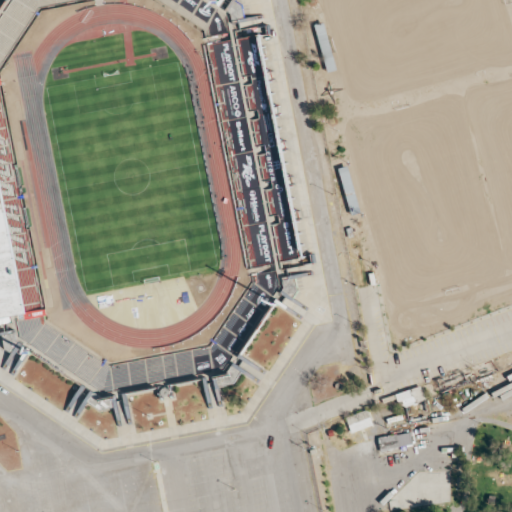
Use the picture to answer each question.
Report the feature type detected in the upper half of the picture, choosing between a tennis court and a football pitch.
football pitch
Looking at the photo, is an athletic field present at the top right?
Yes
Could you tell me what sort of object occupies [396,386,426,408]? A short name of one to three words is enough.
building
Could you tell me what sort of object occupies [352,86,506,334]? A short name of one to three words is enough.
sports field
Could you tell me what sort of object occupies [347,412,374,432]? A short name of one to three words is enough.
house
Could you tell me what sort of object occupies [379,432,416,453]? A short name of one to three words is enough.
building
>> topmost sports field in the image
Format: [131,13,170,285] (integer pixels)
[330,0,512,112]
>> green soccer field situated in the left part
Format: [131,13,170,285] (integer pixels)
[45,26,222,294]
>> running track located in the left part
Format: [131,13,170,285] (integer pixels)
[16,5,242,348]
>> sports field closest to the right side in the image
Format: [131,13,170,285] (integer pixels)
[470,72,512,268]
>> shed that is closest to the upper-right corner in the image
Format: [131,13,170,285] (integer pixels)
[314,24,336,72]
